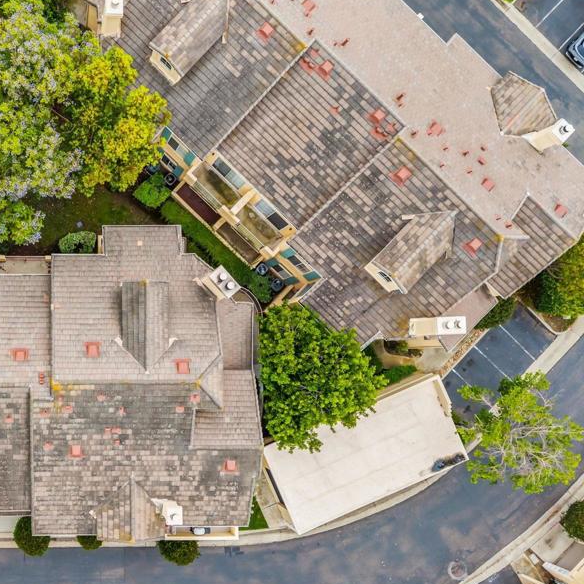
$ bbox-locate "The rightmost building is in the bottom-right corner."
[536,536,584,584]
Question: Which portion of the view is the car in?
top right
